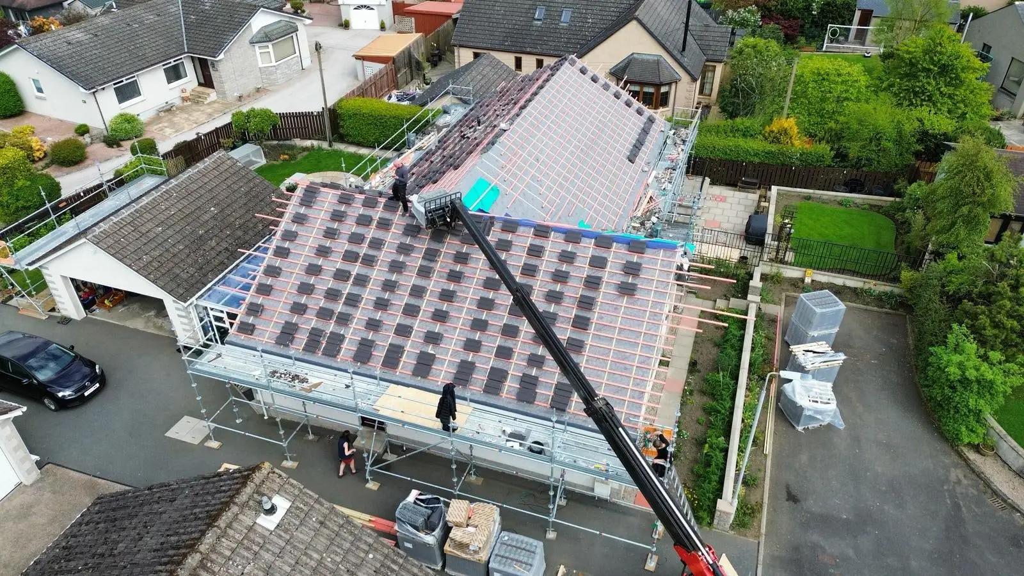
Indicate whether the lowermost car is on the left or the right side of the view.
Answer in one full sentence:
You can find the lowermost car on the left side of the picture.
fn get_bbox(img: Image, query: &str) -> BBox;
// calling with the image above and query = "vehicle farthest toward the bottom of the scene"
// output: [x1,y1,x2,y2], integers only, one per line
[0,329,108,415]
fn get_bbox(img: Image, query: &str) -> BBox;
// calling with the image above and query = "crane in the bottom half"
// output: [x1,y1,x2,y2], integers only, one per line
[424,191,742,576]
